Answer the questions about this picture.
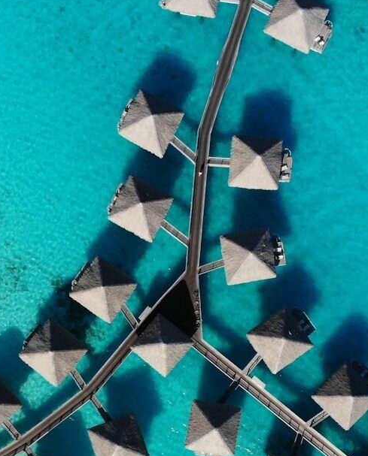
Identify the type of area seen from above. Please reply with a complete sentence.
What you see here is a residential area.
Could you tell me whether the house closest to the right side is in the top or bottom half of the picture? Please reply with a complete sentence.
The house closest to the right side is in the bottom half of the image.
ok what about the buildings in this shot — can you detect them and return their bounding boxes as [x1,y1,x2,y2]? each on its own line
[310,358,368,431]
[245,304,316,376]
[226,135,293,192]
[116,90,186,157]
[16,317,89,388]
[218,228,286,287]
[107,175,175,241]
[262,0,334,54]
[86,410,152,456]
[182,397,243,456]
[0,377,22,427]
[129,310,195,378]
[68,255,138,324]
[162,0,219,19]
